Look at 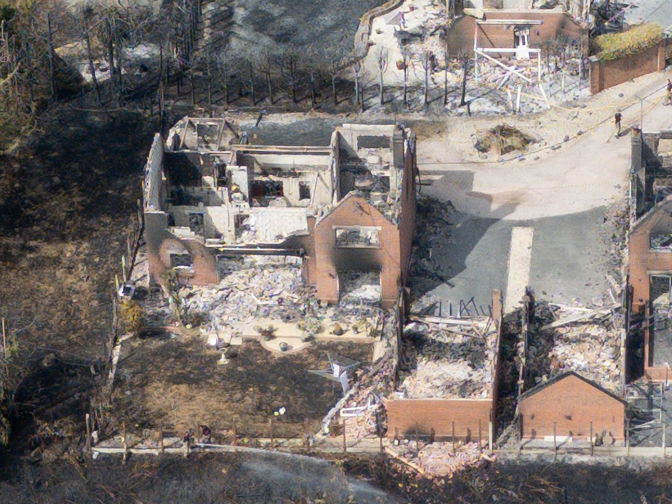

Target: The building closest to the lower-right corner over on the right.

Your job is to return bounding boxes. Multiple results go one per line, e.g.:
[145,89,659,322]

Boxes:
[516,274,629,444]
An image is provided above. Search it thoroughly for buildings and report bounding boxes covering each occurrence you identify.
[447,0,591,60]
[139,116,417,303]
[516,274,629,444]
[624,79,672,310]
[386,276,497,437]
